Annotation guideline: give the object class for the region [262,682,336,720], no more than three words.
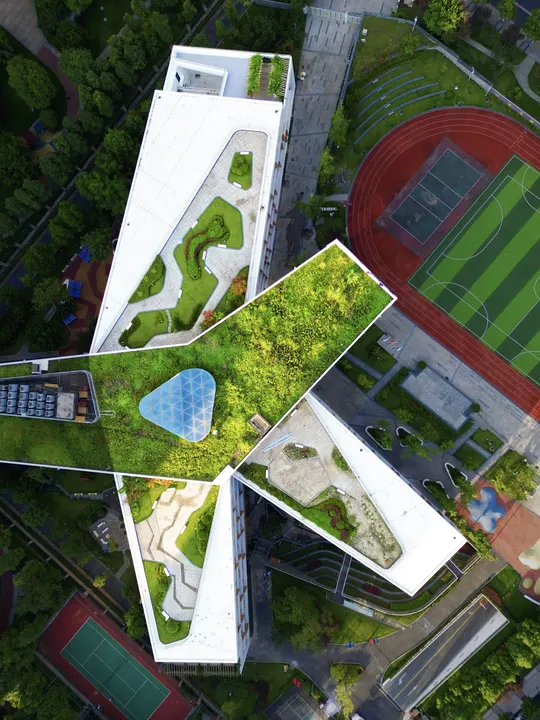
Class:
sports court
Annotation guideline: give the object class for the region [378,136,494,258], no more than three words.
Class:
sports court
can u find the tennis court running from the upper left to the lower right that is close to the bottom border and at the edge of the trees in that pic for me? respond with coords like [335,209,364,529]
[39,593,206,720]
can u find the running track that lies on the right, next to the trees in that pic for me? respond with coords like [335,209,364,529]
[347,105,540,427]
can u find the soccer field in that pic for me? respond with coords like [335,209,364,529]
[409,155,540,385]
